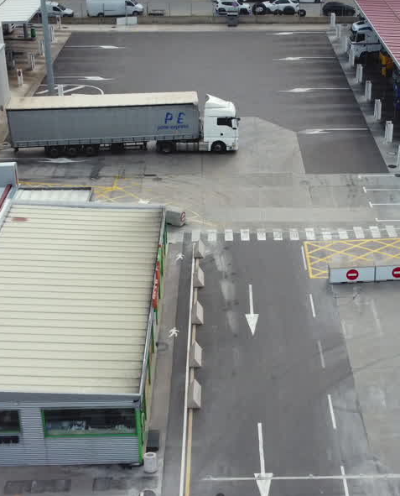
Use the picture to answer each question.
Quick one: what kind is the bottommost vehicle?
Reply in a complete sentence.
From above, the bottommost vehicle can be identified as a truck.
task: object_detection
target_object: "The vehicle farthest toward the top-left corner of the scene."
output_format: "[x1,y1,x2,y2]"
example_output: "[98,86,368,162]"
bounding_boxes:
[44,0,81,15]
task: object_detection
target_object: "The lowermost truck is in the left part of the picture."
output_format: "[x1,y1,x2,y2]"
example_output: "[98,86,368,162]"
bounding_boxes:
[9,94,239,158]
